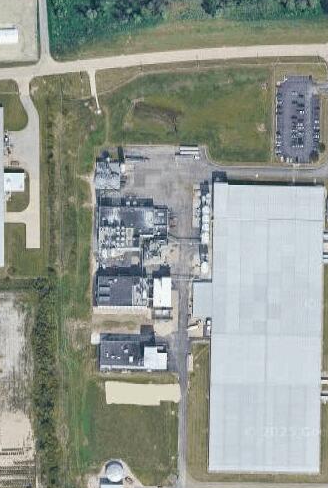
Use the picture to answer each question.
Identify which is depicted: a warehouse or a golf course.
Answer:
warehouse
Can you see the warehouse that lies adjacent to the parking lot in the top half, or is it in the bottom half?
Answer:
bottom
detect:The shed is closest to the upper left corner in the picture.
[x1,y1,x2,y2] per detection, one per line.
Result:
[0,27,19,44]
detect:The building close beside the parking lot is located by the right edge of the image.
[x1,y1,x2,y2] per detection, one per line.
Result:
[209,183,325,473]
